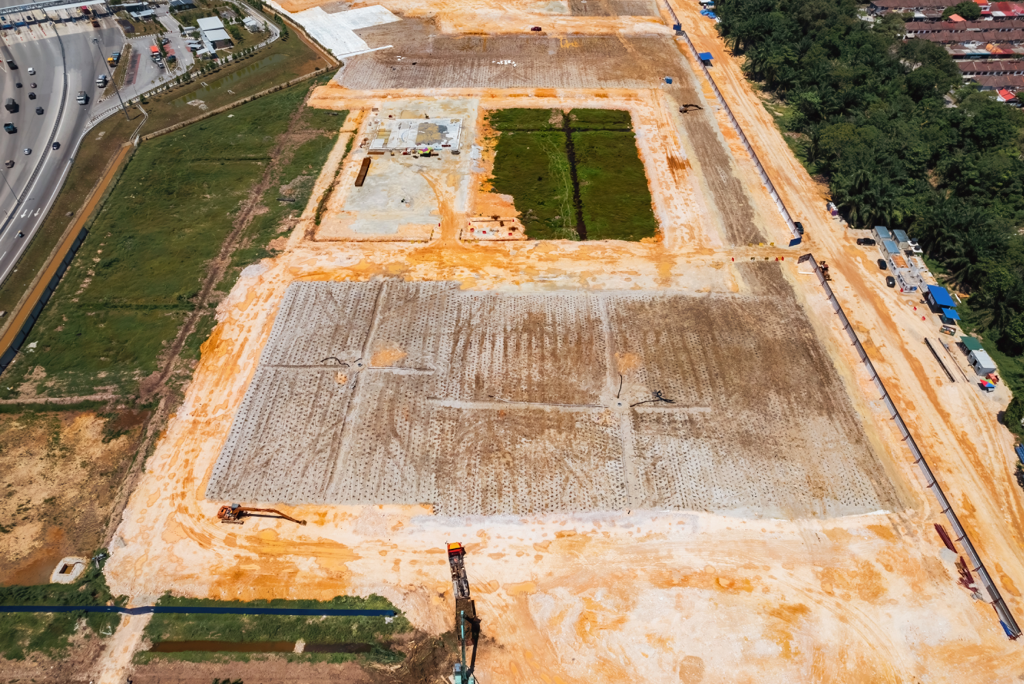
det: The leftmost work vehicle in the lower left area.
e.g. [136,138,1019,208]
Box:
[209,501,301,526]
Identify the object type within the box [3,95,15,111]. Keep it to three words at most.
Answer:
vehicle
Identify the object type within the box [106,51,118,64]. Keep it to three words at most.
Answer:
vehicle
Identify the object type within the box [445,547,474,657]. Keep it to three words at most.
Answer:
truck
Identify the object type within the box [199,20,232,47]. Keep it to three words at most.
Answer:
building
